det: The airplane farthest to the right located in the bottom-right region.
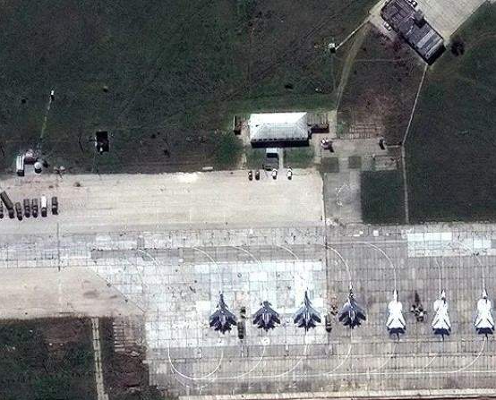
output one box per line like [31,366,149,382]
[475,291,495,331]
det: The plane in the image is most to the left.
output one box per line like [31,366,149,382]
[208,292,236,331]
